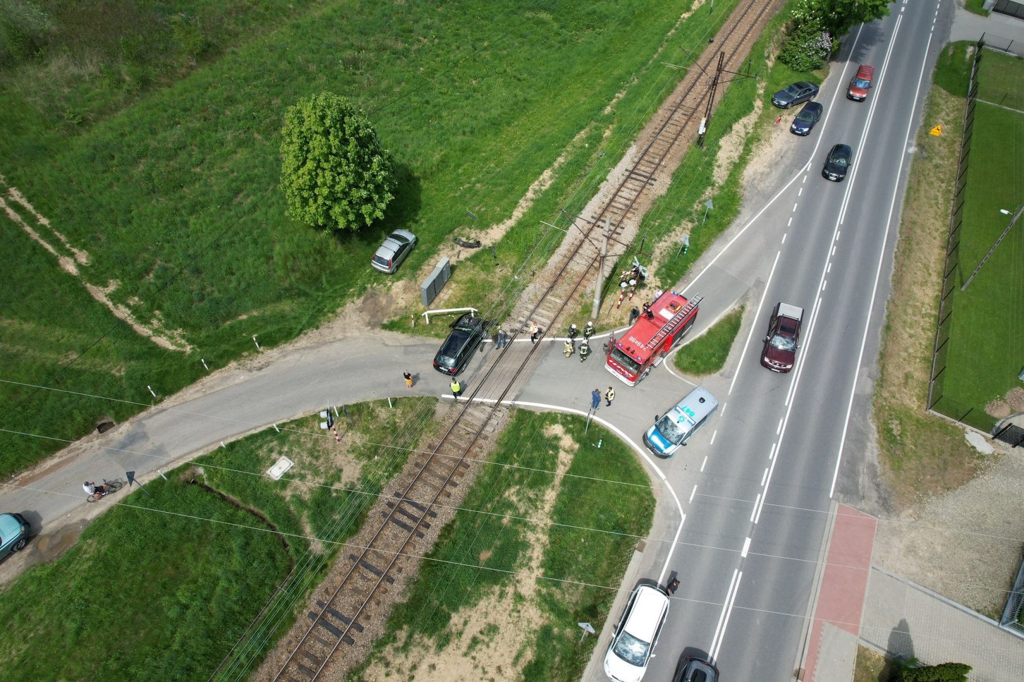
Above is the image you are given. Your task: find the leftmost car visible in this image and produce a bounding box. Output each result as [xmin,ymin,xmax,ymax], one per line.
[0,516,32,563]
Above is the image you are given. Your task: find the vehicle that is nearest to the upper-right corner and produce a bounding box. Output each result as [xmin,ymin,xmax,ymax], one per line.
[846,64,875,100]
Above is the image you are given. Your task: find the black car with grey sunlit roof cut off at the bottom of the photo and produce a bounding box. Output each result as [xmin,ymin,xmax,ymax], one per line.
[675,650,724,682]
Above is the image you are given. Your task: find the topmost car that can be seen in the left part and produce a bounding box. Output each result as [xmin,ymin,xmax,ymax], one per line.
[373,228,418,271]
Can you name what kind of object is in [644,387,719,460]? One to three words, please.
van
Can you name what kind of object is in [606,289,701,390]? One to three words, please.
truck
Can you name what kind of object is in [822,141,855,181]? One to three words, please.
car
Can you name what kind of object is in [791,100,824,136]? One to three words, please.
car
